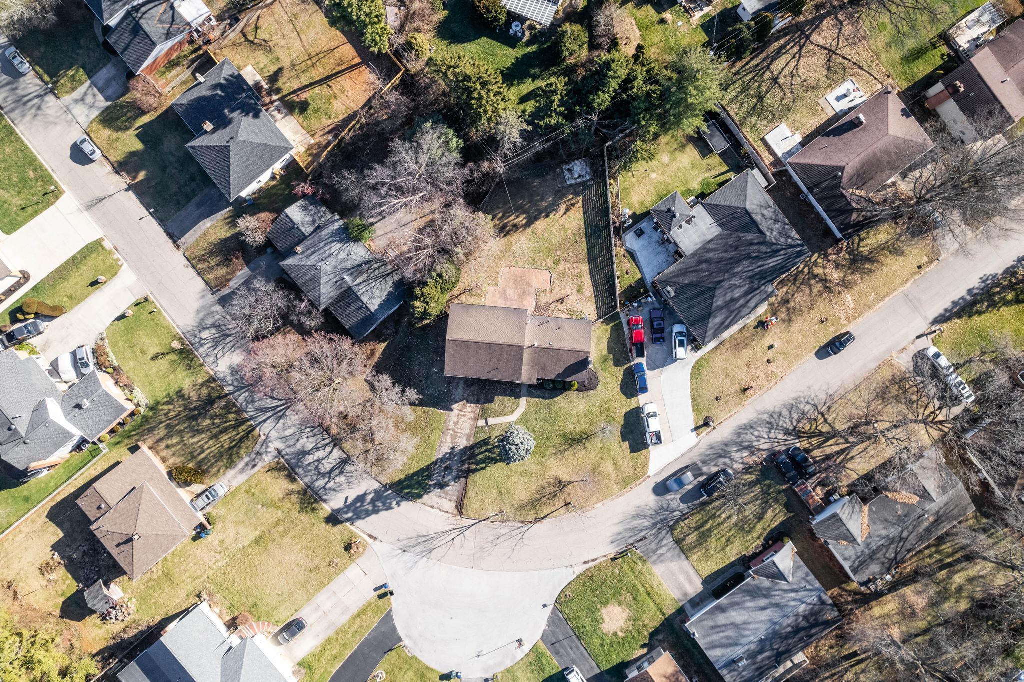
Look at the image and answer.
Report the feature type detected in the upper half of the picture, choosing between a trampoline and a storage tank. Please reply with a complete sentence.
There is a trampoline in the upper half of the picture.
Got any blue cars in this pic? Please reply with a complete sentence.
Yes, a blue car is visible in the scene.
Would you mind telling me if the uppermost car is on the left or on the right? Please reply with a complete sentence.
The uppermost car appears in the left half of the scene.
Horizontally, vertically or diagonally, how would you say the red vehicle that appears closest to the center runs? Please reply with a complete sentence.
I'd say the red vehicle that appears closest to the center is aligned vertically in the picture.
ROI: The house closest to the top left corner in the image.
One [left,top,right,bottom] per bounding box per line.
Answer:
[85,0,212,80]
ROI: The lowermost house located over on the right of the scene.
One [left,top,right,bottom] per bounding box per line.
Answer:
[623,640,690,682]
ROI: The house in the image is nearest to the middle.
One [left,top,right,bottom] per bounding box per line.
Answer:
[444,303,595,384]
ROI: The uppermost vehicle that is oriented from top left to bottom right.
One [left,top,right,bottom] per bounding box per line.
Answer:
[3,42,36,78]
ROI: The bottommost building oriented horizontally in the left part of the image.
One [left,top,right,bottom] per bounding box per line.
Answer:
[117,603,300,682]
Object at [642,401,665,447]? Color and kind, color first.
white truck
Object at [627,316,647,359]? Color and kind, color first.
red vehicle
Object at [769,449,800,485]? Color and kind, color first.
black car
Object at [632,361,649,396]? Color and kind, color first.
blue car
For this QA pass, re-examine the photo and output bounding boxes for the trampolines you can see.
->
[700,120,731,154]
